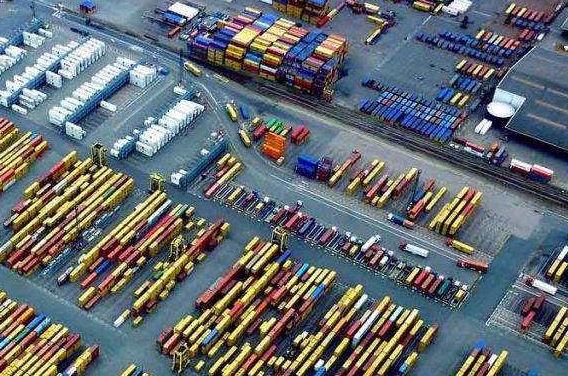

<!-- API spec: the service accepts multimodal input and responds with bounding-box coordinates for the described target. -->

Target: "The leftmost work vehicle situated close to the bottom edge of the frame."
[172,344,191,370]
